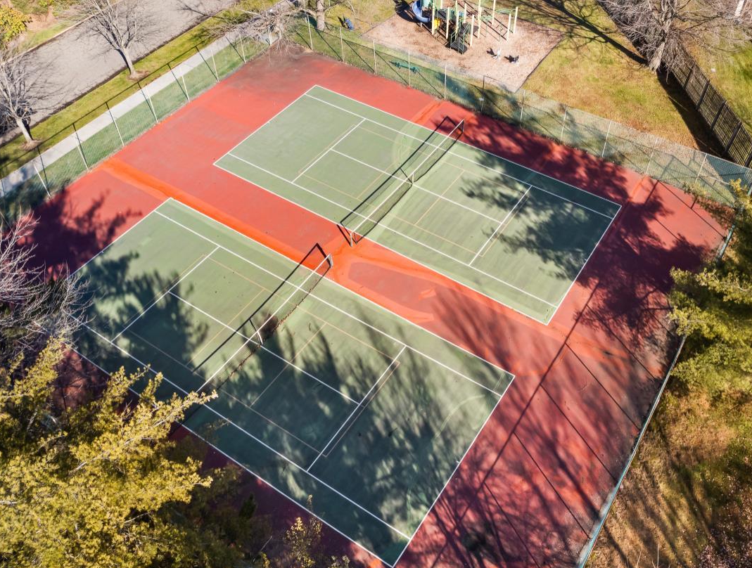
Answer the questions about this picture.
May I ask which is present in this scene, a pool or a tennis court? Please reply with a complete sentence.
It is a tennis court that can be seen here.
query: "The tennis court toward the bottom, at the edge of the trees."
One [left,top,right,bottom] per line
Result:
[21,197,514,568]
